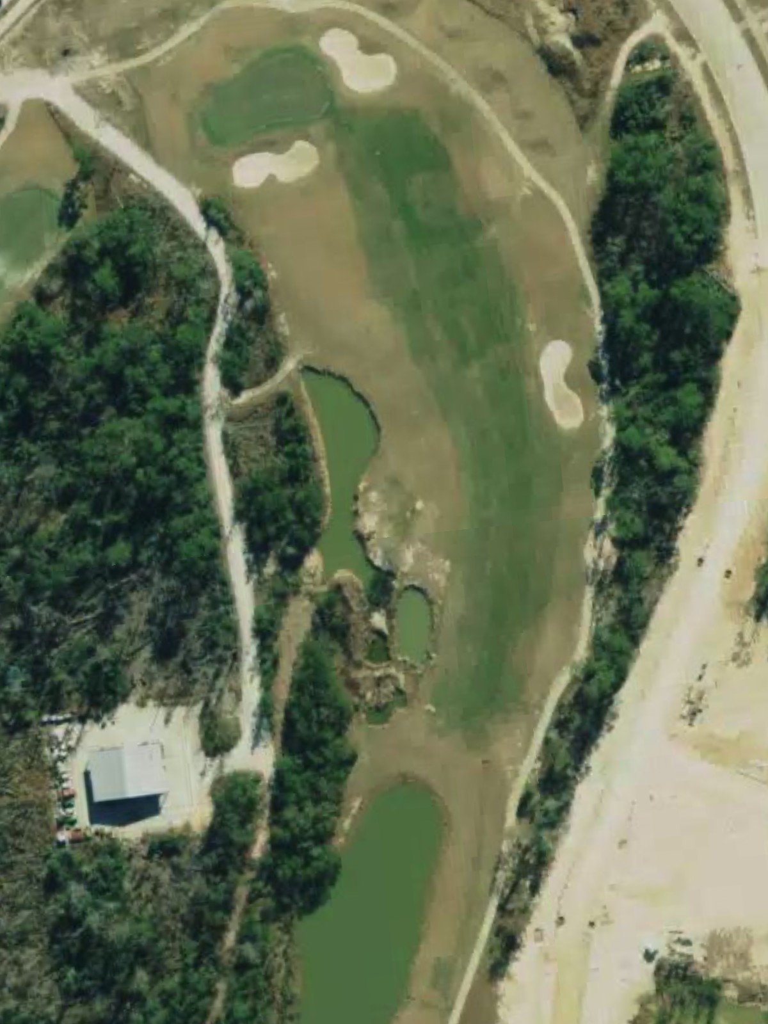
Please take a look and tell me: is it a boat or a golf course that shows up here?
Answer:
golf course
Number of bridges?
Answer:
zero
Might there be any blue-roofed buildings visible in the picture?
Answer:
No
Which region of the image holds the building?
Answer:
bottom left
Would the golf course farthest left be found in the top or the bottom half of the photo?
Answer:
top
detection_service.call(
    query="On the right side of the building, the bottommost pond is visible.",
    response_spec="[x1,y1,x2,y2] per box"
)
[294,780,446,1024]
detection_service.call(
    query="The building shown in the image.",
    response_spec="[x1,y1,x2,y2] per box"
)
[87,742,170,805]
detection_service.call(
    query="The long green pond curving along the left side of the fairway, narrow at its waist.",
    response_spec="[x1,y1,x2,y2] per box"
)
[303,367,391,607]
